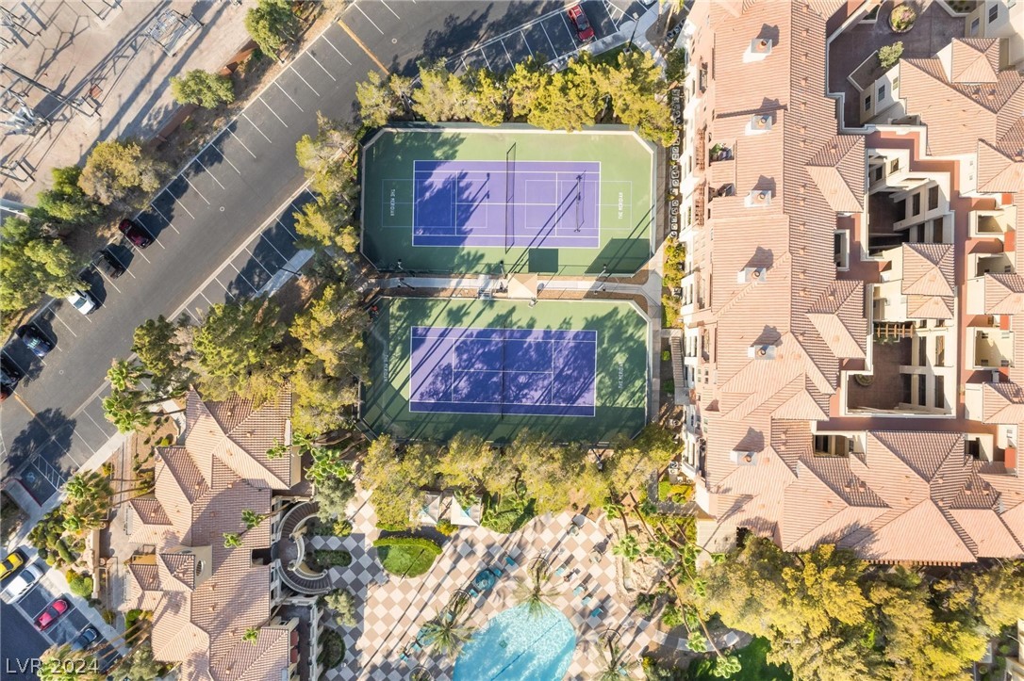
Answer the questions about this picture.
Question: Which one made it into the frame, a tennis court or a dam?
tennis court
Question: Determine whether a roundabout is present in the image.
No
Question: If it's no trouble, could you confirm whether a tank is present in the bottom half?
No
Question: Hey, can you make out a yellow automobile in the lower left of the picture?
Yes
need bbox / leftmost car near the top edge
[568,0,597,41]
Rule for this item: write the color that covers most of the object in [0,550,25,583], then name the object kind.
yellow car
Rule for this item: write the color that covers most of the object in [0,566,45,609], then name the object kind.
white car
